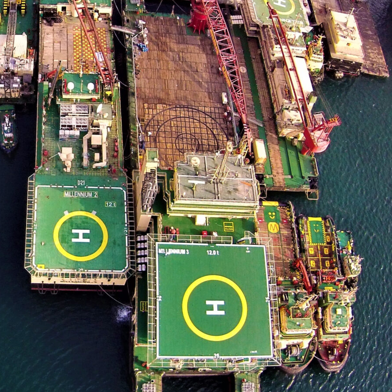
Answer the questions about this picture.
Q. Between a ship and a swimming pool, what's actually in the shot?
ship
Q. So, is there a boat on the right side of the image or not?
Yes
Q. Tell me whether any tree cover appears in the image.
No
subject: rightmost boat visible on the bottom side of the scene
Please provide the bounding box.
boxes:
[332,227,366,293]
